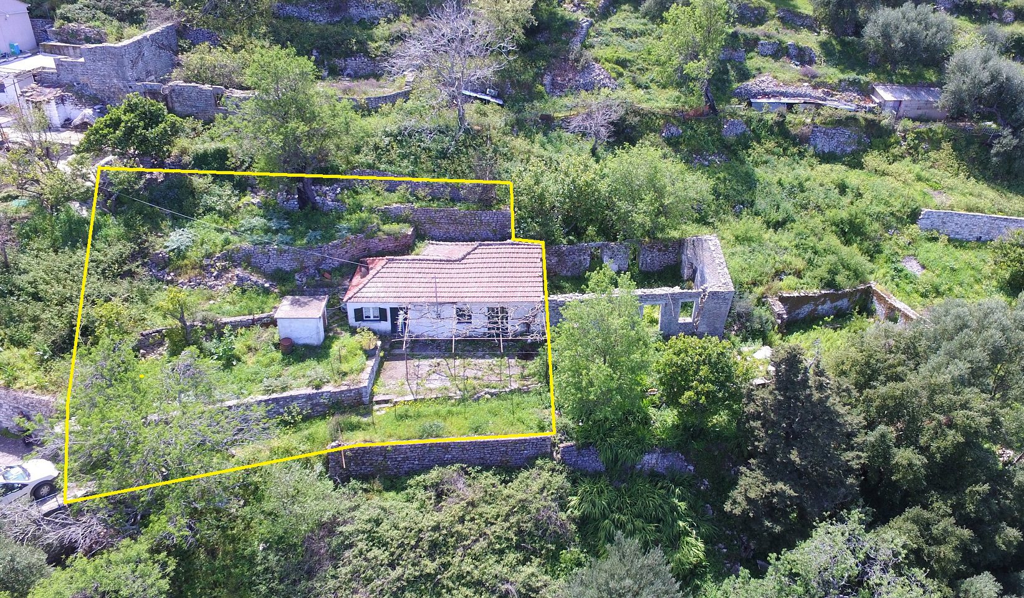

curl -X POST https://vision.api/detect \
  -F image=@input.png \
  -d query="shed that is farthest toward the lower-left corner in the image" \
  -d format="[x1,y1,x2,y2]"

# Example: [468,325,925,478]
[271,290,334,344]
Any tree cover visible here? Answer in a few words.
Yes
